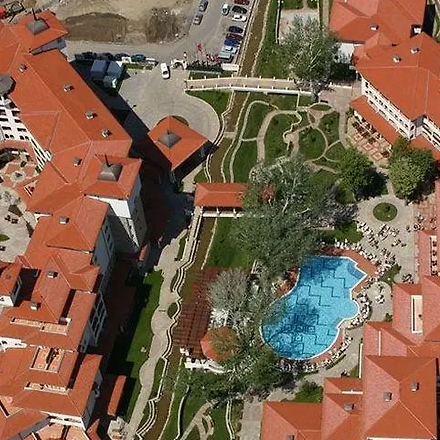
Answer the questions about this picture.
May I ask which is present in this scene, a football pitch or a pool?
pool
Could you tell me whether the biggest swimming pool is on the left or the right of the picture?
right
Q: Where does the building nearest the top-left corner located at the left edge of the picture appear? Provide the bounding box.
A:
[9,10,72,64]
